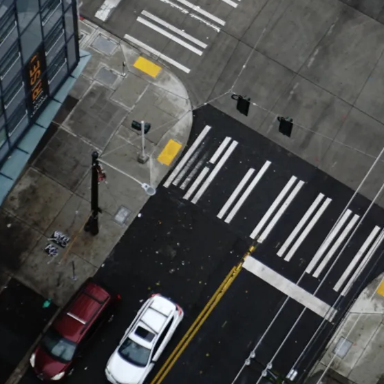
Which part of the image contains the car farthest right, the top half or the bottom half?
bottom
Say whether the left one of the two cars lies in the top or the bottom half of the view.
bottom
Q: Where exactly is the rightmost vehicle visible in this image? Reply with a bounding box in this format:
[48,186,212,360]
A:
[100,300,186,384]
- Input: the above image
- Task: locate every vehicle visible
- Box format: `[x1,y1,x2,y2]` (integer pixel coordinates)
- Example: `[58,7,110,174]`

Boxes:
[100,300,186,384]
[35,284,122,384]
